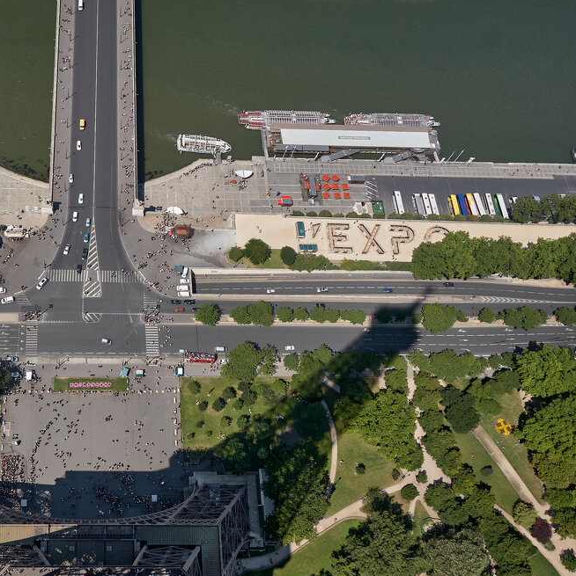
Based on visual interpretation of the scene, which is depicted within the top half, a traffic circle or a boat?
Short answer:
boat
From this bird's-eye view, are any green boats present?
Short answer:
No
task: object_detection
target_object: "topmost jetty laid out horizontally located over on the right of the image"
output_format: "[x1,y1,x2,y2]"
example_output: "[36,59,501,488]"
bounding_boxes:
[262,122,442,162]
